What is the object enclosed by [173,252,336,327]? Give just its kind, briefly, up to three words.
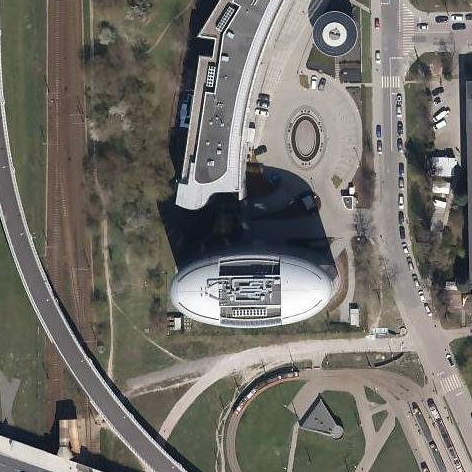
building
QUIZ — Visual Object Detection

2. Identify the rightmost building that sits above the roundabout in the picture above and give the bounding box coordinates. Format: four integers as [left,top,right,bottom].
[313,11,358,56]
